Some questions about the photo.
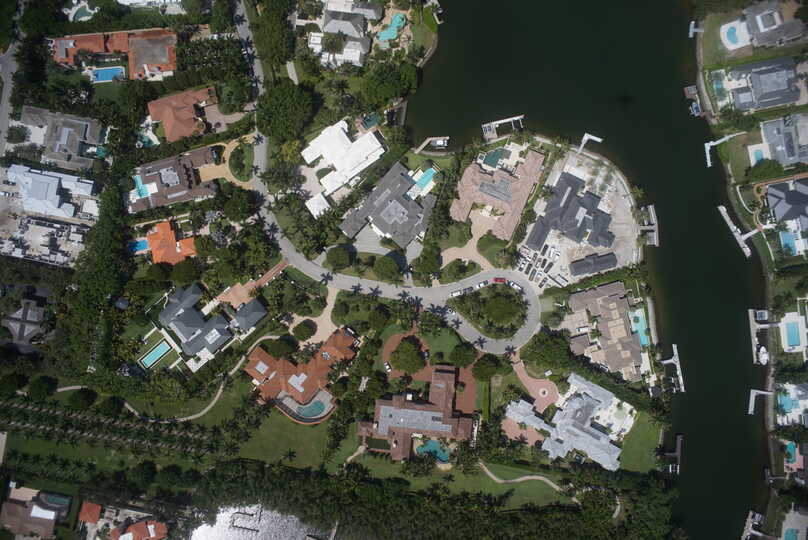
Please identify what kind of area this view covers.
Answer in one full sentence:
This looks like a residential area.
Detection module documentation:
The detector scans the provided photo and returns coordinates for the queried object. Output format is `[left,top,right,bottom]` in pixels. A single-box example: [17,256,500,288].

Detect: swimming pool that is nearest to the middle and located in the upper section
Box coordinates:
[416,167,438,189]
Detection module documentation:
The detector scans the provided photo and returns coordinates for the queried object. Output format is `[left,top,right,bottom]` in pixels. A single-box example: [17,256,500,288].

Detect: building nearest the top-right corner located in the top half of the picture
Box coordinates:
[741,0,803,48]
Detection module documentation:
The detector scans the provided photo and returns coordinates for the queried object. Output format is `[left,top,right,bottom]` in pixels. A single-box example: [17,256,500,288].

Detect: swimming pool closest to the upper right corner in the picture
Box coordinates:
[726,25,739,44]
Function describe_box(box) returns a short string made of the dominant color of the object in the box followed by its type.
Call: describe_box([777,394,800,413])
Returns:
blue swimming pool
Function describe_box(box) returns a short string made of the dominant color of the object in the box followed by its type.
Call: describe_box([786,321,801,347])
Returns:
blue swimming pool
